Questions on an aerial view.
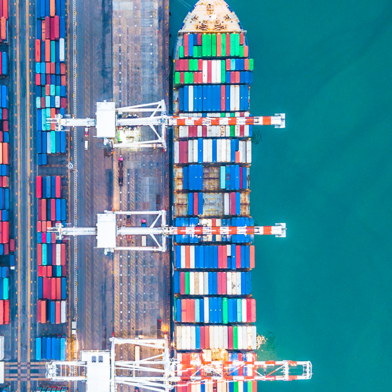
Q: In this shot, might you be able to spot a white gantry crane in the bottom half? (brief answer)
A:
Yes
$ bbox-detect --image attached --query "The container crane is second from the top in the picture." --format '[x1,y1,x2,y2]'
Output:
[46,207,285,254]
